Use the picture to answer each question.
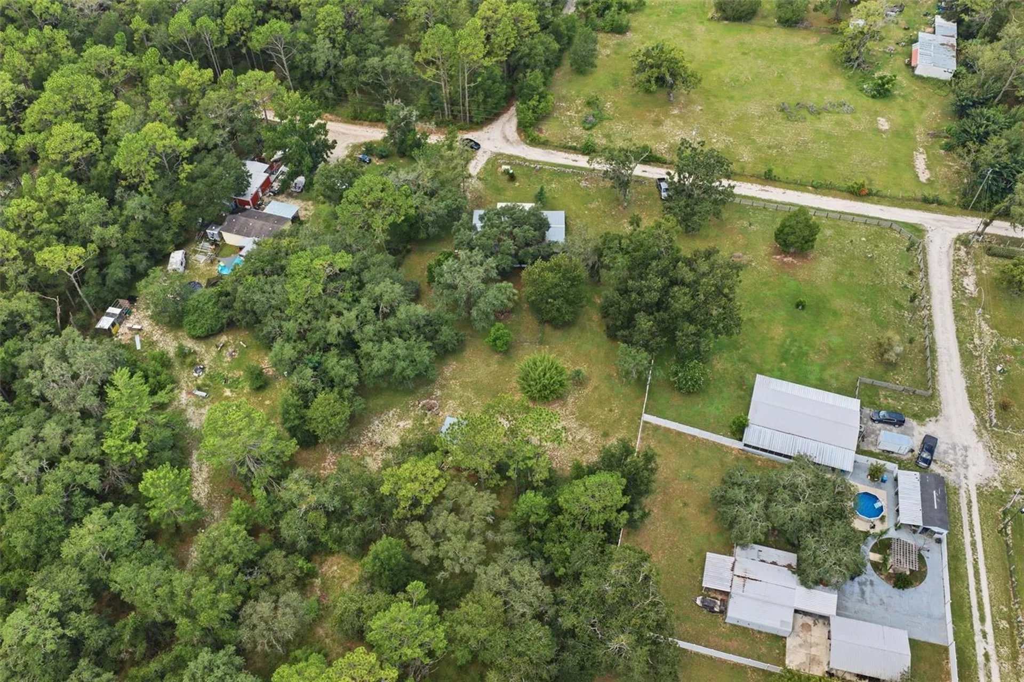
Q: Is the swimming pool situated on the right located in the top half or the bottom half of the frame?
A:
bottom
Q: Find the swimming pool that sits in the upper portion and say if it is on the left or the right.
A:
left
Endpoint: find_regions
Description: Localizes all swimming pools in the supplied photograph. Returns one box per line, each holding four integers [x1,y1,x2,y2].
[216,247,246,274]
[851,492,886,522]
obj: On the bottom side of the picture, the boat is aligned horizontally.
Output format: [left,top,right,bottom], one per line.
[693,593,732,611]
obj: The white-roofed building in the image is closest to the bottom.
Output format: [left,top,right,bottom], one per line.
[824,616,916,682]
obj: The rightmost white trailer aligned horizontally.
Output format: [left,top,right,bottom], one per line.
[878,426,922,452]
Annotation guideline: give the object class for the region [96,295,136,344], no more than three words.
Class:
shed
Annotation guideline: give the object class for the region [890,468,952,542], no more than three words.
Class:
building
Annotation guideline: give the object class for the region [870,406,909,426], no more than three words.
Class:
car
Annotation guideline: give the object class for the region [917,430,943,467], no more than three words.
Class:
truck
